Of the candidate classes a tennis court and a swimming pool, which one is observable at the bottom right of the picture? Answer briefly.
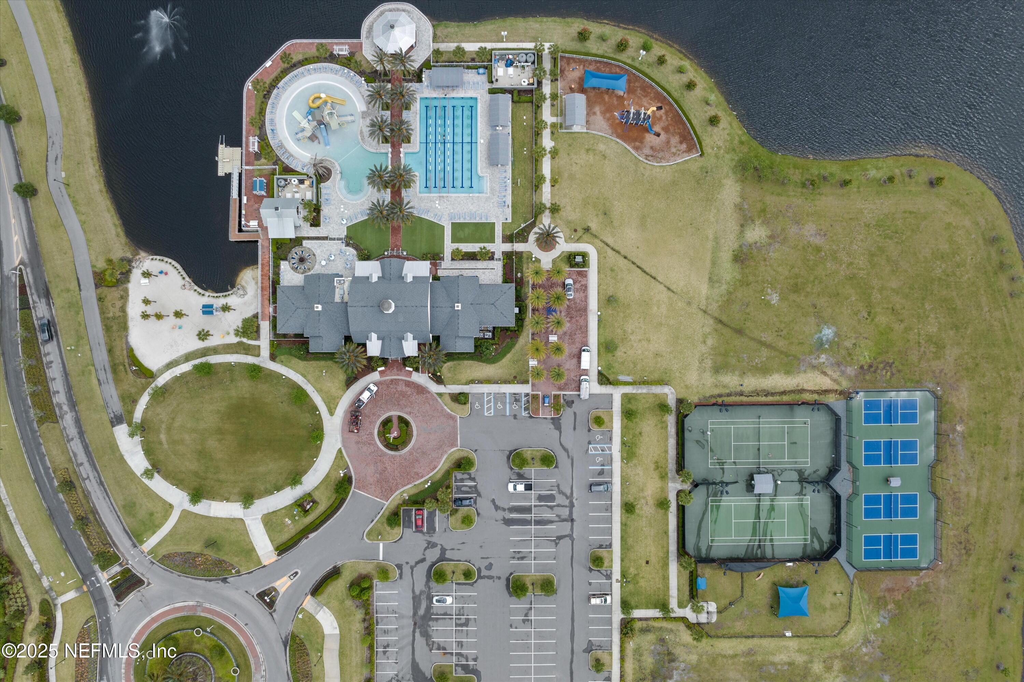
tennis court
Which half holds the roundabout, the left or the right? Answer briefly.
left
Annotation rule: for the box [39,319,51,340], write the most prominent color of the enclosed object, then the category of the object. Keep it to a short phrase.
gray vehicle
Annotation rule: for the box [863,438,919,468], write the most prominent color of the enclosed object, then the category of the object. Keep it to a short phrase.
blue sports court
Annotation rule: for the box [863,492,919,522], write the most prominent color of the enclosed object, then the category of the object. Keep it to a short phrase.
blue sports court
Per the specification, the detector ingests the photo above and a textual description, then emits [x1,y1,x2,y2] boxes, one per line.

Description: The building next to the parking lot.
[277,257,519,362]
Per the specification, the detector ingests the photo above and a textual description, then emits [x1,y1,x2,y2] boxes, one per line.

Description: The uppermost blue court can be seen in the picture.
[863,397,919,426]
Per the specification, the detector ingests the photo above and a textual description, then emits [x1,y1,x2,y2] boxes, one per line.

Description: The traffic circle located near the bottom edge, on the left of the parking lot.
[121,602,263,682]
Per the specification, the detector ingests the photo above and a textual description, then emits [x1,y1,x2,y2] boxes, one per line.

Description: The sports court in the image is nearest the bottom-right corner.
[863,533,919,563]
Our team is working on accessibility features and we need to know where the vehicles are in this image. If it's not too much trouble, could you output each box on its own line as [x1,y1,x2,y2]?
[433,595,453,605]
[39,319,51,340]
[454,497,475,507]
[590,483,611,492]
[416,509,424,529]
[543,395,549,405]
[589,594,612,605]
[564,278,574,299]
[579,376,589,400]
[580,346,590,369]
[356,384,376,408]
[508,482,533,491]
